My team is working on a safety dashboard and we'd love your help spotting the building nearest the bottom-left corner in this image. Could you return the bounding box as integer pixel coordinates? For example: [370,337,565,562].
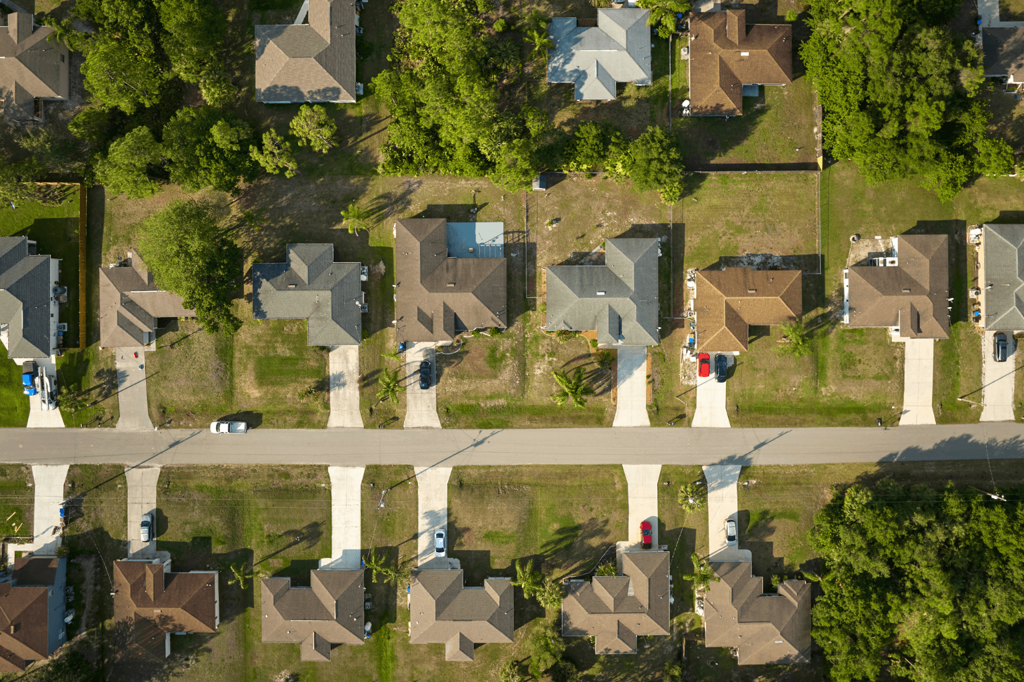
[0,554,67,672]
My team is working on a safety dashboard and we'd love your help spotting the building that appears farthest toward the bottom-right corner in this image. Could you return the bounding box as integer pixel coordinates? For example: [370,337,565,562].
[703,559,812,666]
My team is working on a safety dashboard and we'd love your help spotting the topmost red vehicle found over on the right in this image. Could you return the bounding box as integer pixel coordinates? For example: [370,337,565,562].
[698,353,712,377]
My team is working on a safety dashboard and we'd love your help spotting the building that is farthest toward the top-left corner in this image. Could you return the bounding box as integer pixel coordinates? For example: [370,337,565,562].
[0,11,77,122]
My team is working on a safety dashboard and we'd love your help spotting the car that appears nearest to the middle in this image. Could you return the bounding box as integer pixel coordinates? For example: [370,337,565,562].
[418,361,431,389]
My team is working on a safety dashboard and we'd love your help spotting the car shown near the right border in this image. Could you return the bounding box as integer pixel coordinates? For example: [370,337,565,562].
[992,333,1010,362]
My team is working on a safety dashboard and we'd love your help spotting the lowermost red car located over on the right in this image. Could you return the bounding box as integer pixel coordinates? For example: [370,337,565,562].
[639,521,653,550]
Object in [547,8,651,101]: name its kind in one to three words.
house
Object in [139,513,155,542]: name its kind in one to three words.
car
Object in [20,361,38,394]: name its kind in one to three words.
vehicle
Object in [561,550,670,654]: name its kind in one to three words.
house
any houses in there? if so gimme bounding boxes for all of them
[391,217,507,341]
[547,8,651,101]
[976,223,1024,330]
[262,566,365,660]
[975,26,1024,84]
[0,236,60,359]
[98,246,194,348]
[254,0,357,105]
[411,566,515,660]
[561,550,670,654]
[703,559,812,666]
[107,558,219,661]
[546,238,661,345]
[692,266,802,351]
[252,243,362,345]
[0,554,67,672]
[688,9,793,117]
[0,11,77,122]
[844,234,954,338]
